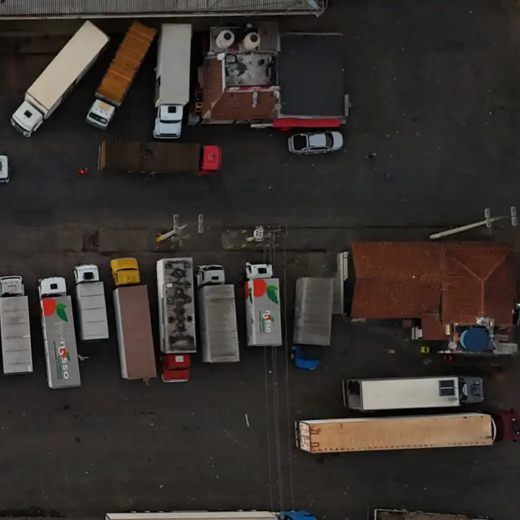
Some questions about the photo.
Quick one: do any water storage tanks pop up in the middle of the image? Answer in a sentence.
No, there is no water storage tank in the middle of the image.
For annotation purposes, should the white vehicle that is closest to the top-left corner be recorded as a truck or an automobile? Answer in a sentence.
In the photo, the white vehicle that is closest to the top-left corner shows up as a truck.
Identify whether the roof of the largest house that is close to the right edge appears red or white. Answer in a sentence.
The roof of the largest house that is close to the right edge is red.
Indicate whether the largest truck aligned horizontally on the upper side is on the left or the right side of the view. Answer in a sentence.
You can find the largest truck aligned horizontally on the upper side on the left side of the picture.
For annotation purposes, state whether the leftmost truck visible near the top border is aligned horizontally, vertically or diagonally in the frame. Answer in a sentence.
The leftmost truck visible near the top border runs diagonally in the image.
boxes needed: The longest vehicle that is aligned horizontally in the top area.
[93,141,220,177]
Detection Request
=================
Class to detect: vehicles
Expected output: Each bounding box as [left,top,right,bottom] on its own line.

[7,24,109,142]
[70,262,110,342]
[286,129,343,156]
[102,508,317,520]
[240,260,281,347]
[0,277,33,375]
[106,256,156,379]
[357,507,495,520]
[34,274,80,389]
[83,24,157,131]
[154,258,196,383]
[287,278,331,371]
[339,375,483,410]
[193,266,240,364]
[151,24,191,143]
[93,141,220,177]
[291,408,520,454]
